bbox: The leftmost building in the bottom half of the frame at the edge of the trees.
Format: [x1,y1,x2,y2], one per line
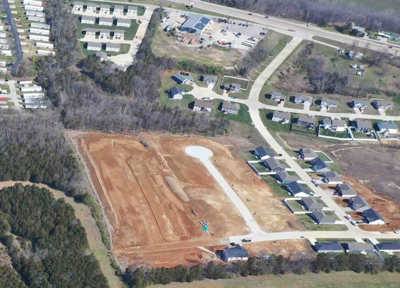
[219,247,248,261]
